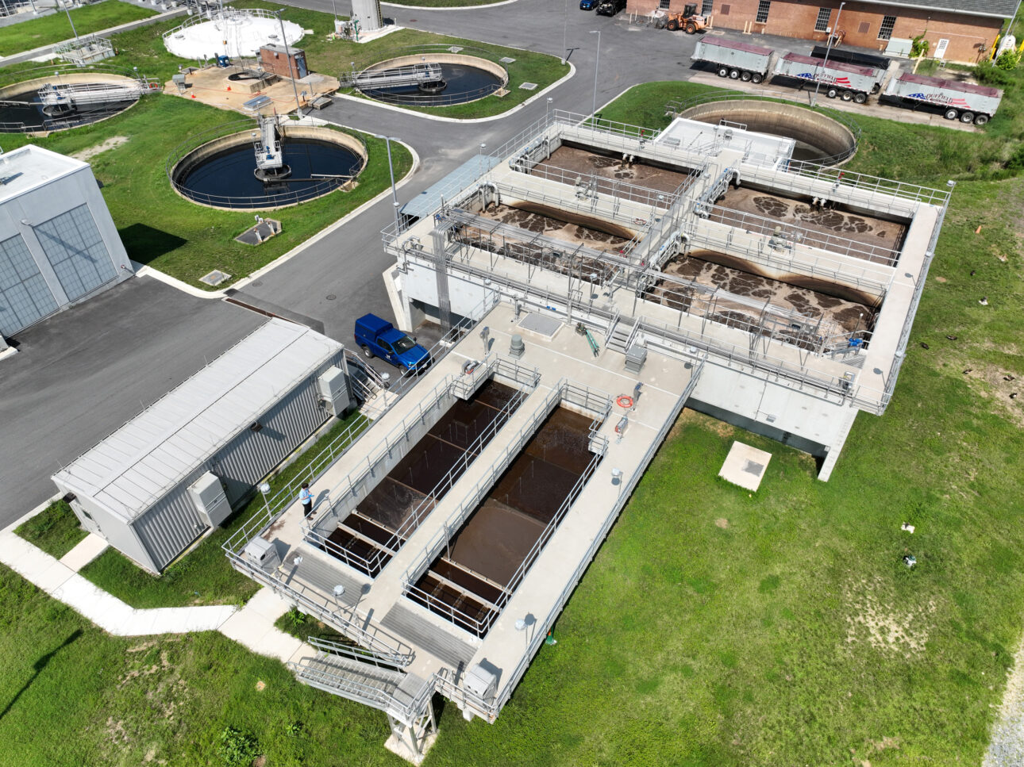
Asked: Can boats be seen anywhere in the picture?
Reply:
No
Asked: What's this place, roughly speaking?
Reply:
industrial area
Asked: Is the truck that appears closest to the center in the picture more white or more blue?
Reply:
blue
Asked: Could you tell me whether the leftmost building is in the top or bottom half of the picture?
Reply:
top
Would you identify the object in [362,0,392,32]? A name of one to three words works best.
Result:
silo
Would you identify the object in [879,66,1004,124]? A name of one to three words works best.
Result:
trailer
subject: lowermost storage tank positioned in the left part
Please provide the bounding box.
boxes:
[168,126,367,213]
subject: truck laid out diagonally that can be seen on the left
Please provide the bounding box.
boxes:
[351,315,433,378]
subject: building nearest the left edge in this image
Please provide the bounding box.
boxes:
[0,142,134,333]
